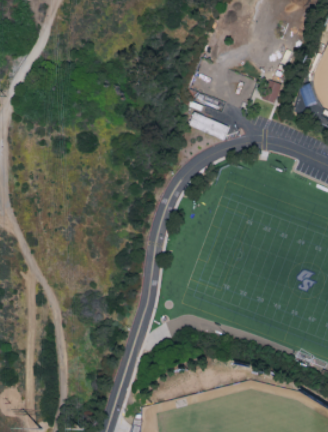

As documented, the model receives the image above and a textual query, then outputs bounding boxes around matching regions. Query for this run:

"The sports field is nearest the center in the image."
[154,154,328,361]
